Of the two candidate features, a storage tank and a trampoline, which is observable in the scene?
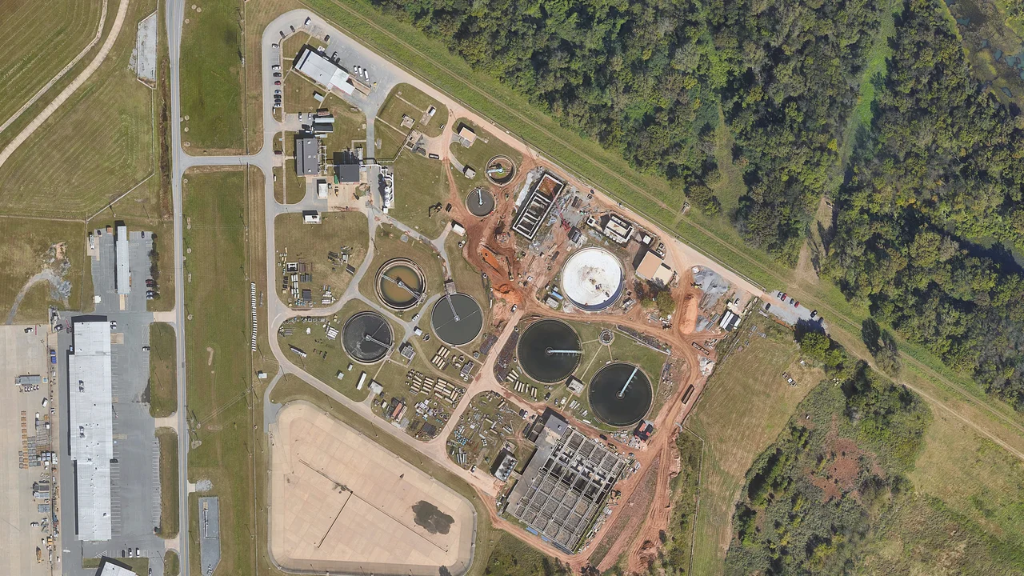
storage tank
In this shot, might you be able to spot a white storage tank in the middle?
Yes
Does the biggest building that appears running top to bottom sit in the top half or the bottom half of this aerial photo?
bottom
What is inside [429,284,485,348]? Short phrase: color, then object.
gray storage tank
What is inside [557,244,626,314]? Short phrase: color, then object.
white storage tank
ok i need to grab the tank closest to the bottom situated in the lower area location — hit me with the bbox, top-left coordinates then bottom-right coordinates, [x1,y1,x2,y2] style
[587,361,654,428]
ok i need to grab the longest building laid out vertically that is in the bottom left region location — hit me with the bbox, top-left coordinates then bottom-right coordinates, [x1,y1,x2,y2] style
[67,321,113,540]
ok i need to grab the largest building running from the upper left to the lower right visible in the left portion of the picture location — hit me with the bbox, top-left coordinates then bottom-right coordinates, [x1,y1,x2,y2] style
[295,48,357,98]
